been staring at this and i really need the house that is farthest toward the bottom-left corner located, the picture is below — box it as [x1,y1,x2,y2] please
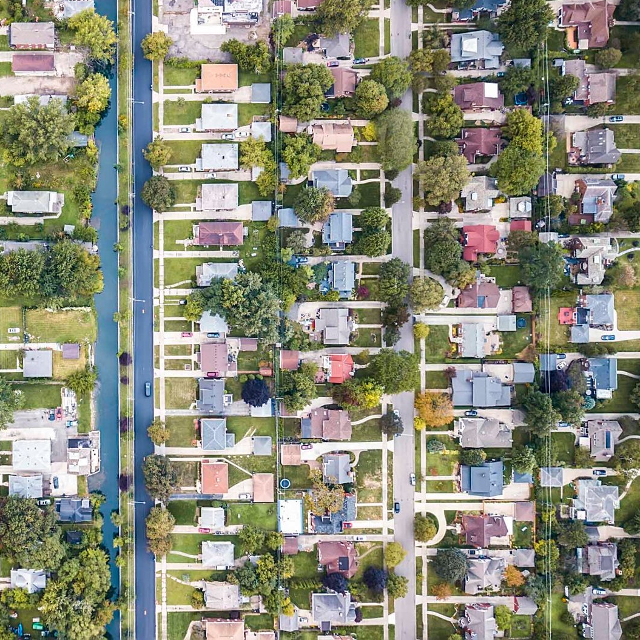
[10,568,45,595]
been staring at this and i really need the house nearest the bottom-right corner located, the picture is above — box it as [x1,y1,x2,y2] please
[584,599,622,640]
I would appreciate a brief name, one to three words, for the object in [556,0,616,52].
house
